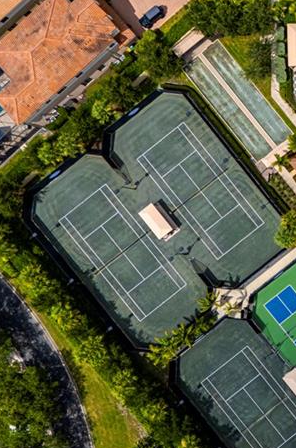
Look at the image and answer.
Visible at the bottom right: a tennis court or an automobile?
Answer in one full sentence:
The one visible at the bottom right is a tennis court.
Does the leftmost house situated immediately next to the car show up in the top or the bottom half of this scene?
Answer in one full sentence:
The leftmost house situated immediately next to the car is in the top half of the image.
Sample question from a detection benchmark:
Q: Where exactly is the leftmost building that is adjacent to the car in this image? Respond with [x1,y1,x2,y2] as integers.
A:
[0,0,141,127]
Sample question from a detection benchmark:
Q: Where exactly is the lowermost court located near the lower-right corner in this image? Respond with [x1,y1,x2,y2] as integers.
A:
[201,346,296,448]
